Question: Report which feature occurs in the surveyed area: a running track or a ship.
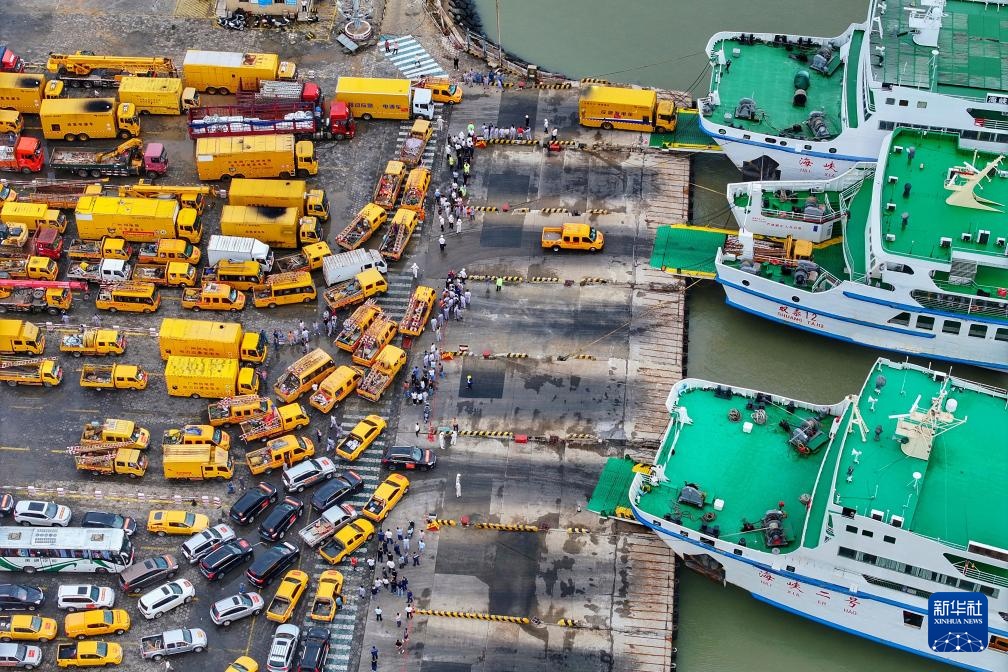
ship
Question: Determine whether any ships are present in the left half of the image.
No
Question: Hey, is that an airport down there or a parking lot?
parking lot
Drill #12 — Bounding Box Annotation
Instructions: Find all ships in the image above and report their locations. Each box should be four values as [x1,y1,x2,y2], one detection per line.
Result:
[651,0,1008,184]
[588,355,1008,672]
[650,127,1008,385]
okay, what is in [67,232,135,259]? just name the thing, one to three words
truck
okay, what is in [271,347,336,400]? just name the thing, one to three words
van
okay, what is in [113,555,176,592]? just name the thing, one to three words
car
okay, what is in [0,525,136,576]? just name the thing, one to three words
bus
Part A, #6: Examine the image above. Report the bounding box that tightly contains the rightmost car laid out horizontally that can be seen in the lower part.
[382,445,439,474]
